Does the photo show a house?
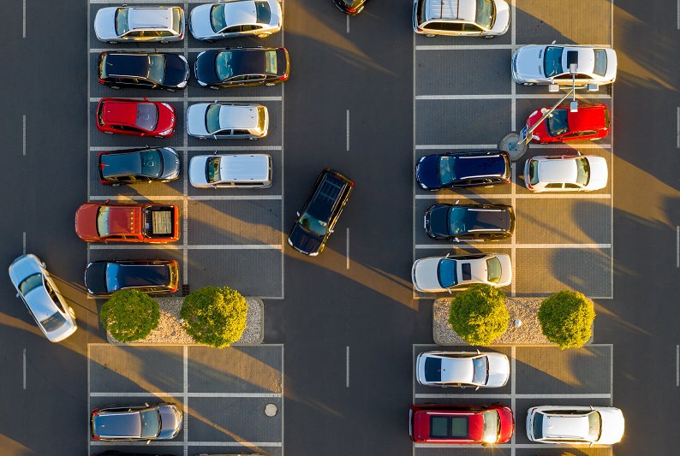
No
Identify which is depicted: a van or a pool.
van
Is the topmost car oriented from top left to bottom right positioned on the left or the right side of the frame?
left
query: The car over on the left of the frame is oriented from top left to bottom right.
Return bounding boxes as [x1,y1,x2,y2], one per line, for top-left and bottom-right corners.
[9,255,77,340]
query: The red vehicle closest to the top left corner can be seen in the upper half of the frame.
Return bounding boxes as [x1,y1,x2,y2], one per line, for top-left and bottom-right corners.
[94,91,178,137]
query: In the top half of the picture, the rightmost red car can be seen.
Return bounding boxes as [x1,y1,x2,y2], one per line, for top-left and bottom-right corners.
[526,99,612,145]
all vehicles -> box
[424,199,516,244]
[190,0,282,44]
[412,251,513,295]
[74,199,179,245]
[290,170,353,254]
[187,98,268,141]
[413,0,510,41]
[335,0,376,18]
[511,40,619,87]
[9,255,77,340]
[526,99,612,145]
[194,44,289,91]
[416,347,510,391]
[89,403,184,446]
[94,0,184,46]
[524,152,608,195]
[96,144,181,189]
[96,46,191,92]
[94,91,178,137]
[415,146,512,192]
[526,404,625,448]
[84,255,179,297]
[408,403,515,448]
[189,149,272,192]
